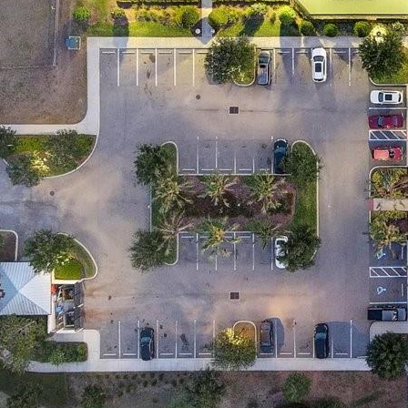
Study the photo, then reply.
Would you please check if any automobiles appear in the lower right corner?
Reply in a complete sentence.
Yes, an automobile is visible in the lower right corner.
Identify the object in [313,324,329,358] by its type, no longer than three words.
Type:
car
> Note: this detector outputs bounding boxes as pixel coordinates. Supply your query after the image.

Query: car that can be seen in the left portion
[138,326,156,360]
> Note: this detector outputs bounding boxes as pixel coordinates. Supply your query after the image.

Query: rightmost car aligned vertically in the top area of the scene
[311,48,326,81]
